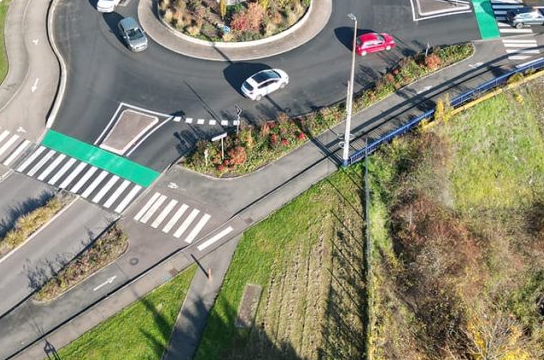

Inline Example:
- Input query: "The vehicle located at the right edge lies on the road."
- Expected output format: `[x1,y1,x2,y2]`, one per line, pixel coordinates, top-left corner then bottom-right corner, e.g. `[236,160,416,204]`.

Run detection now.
[507,5,544,27]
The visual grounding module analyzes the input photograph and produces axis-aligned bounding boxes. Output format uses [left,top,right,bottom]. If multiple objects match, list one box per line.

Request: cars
[117,14,147,47]
[507,5,544,27]
[355,31,397,56]
[239,68,289,99]
[96,0,119,10]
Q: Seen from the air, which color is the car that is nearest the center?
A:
white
